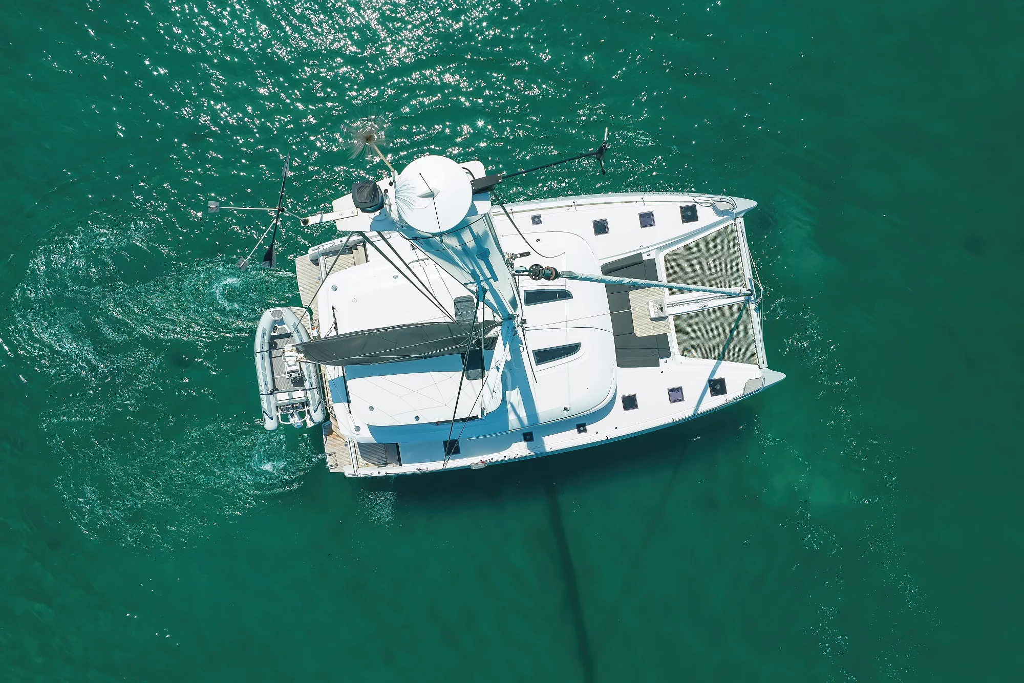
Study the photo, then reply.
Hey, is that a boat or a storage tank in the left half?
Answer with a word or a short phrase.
boat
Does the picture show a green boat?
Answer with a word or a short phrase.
No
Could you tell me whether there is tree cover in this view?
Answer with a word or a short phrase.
No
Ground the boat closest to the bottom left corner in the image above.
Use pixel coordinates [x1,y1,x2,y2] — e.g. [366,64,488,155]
[253,305,324,429]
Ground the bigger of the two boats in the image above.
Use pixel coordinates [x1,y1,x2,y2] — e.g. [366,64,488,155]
[208,114,785,478]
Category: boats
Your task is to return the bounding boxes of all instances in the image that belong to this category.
[208,114,785,478]
[253,305,324,429]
